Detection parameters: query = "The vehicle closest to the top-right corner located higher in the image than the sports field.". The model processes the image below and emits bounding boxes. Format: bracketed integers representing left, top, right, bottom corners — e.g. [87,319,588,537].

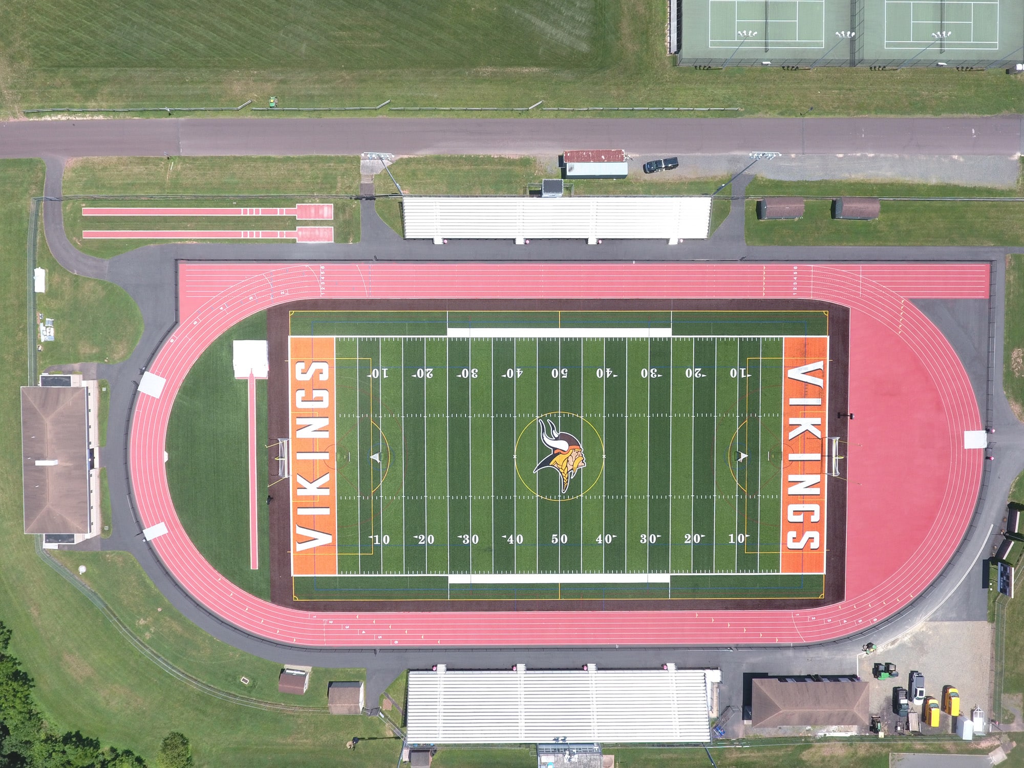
[645,155,679,172]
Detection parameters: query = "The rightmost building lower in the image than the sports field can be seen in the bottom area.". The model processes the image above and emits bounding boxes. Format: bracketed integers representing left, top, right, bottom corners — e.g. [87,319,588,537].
[744,670,870,728]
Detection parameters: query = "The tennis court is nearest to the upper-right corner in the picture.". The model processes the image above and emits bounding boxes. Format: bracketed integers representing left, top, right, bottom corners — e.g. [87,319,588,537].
[856,0,1021,68]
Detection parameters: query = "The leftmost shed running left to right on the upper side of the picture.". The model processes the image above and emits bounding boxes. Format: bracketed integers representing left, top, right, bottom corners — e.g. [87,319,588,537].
[760,197,806,218]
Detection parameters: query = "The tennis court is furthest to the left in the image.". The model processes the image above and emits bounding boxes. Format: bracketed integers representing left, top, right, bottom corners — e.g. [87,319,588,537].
[677,0,856,67]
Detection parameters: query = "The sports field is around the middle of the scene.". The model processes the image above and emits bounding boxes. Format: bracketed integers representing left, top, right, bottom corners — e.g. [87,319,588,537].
[165,298,850,613]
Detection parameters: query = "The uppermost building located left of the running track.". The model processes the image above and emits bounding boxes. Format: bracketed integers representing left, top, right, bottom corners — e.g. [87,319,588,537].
[20,374,104,548]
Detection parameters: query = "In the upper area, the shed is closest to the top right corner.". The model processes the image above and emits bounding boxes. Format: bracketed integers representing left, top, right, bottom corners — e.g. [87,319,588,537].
[835,197,884,219]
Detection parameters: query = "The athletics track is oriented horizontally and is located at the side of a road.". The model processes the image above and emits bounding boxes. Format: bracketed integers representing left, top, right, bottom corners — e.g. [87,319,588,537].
[129,264,990,646]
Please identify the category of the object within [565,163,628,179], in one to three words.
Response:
trailer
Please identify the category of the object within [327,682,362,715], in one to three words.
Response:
shed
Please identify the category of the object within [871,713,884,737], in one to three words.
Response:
vehicle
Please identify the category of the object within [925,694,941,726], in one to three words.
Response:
vehicle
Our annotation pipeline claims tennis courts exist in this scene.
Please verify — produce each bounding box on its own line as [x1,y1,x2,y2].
[856,0,1021,68]
[677,0,856,67]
